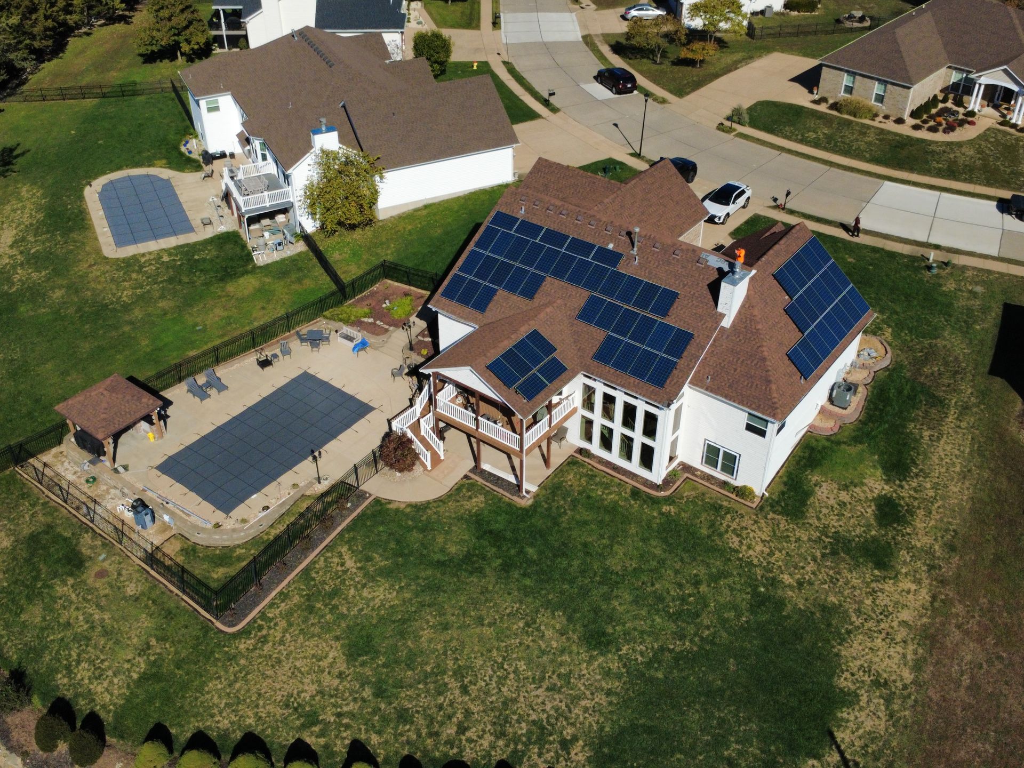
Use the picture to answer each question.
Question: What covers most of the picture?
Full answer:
The largest share of the image is taken up by grass.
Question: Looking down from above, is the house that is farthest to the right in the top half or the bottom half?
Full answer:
The house that is farthest to the right is in the top half of the image.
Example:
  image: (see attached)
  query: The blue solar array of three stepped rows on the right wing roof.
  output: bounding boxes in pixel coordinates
[775,237,872,378]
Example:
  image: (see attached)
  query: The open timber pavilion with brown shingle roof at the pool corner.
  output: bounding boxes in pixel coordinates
[51,372,167,470]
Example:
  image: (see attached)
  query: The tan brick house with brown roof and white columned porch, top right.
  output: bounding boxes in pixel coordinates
[814,0,1024,126]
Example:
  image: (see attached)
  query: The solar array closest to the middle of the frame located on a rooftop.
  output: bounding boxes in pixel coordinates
[488,328,567,400]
